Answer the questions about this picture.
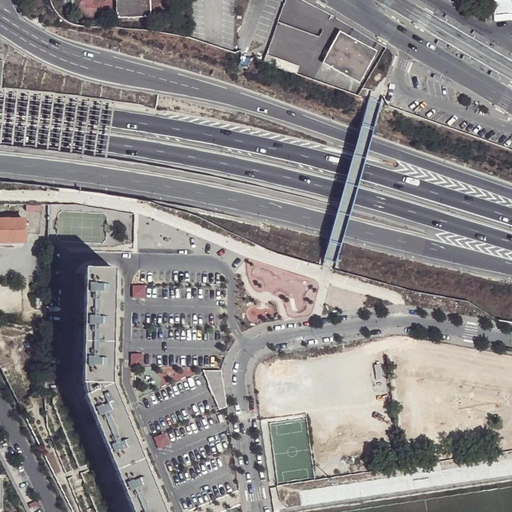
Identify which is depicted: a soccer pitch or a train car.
soccer pitch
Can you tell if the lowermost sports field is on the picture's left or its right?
right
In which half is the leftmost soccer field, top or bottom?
bottom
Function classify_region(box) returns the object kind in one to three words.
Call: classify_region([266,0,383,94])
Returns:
building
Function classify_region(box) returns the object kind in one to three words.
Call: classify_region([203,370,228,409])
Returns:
building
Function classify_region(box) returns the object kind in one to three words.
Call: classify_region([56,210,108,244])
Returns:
sports court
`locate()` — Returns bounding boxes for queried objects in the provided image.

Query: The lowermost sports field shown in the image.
[286,460,512,512]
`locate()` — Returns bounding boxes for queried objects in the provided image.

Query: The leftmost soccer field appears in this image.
[260,414,316,488]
